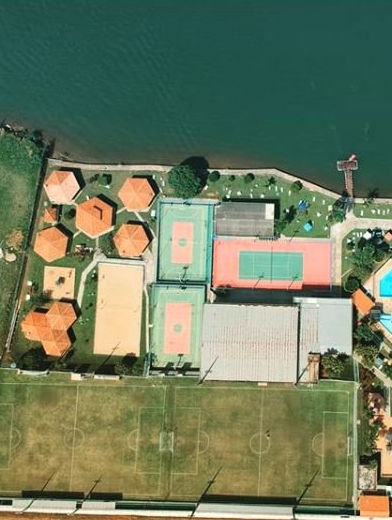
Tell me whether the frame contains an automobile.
No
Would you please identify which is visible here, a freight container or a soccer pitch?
soccer pitch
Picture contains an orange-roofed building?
Yes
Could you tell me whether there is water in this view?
Yes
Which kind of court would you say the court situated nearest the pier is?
tennis court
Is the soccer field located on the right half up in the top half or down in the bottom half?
bottom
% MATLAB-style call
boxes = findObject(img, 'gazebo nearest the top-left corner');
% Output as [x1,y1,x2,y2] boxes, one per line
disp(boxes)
[46,171,84,205]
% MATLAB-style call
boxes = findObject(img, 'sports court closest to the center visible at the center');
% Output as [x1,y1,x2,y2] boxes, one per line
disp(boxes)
[158,199,214,281]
